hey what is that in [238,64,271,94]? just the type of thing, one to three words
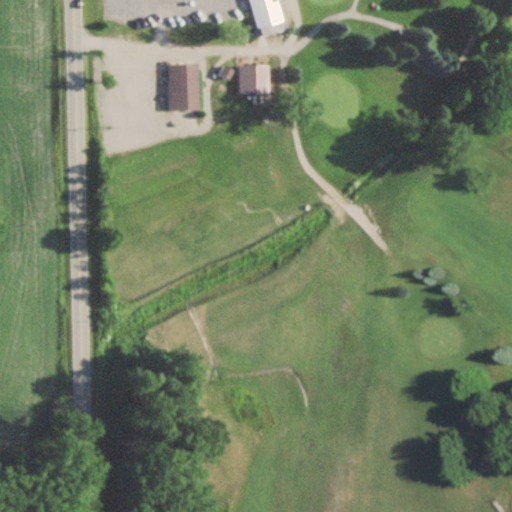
building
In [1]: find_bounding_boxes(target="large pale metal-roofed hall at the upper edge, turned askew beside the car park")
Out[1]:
[249,0,288,38]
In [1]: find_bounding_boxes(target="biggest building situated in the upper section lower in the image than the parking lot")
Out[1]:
[169,64,200,111]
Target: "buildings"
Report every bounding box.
[169,64,200,111]
[249,0,288,38]
[238,64,271,94]
[218,66,236,82]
